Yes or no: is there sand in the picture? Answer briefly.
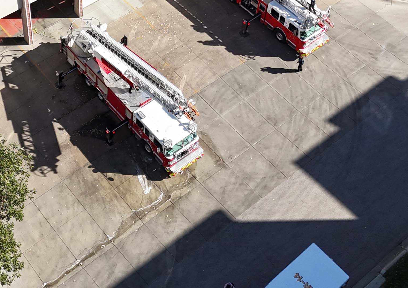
No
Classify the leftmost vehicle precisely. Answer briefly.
truck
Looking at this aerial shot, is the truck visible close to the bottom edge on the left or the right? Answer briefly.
right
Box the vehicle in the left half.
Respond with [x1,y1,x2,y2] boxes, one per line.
[54,16,216,174]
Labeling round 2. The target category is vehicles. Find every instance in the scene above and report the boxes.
[54,16,216,174]
[227,0,344,57]
[261,244,349,288]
